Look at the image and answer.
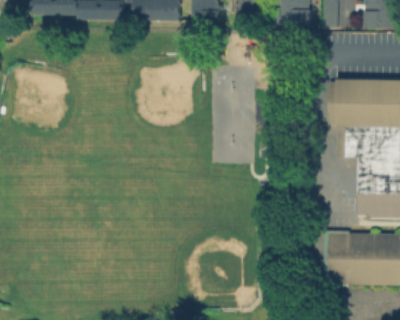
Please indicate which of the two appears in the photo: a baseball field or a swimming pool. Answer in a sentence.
It is a baseball field that can be seen here.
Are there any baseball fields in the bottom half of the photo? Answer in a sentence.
Yes, a baseball field shows up in the bottom half of the photo.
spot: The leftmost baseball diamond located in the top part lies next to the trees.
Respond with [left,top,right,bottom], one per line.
[0,57,83,142]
